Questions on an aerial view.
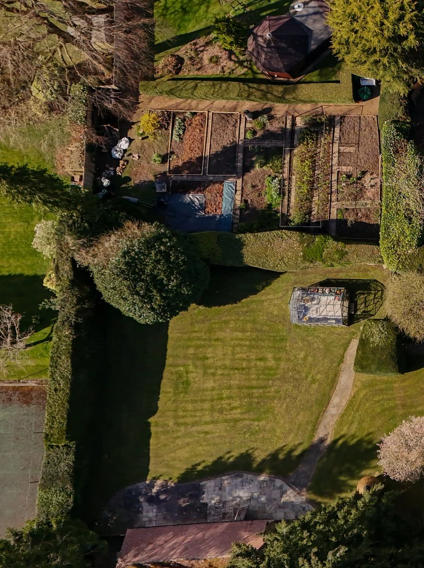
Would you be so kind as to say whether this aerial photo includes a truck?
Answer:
No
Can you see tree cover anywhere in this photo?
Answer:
Yes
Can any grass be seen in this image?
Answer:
Yes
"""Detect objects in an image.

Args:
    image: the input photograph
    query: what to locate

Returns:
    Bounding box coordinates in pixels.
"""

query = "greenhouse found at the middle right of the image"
[289,288,357,327]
